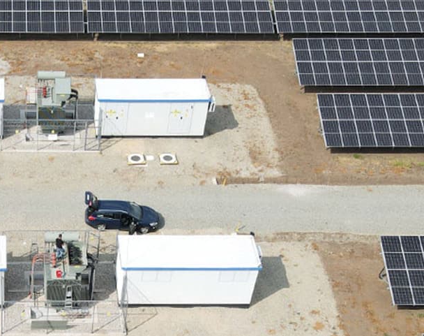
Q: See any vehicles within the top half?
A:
No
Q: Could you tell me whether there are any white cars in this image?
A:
No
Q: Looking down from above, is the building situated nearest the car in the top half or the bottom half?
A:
bottom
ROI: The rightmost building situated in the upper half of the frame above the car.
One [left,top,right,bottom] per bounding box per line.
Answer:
[97,77,211,136]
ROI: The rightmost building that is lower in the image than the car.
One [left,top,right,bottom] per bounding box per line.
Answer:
[118,233,263,305]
